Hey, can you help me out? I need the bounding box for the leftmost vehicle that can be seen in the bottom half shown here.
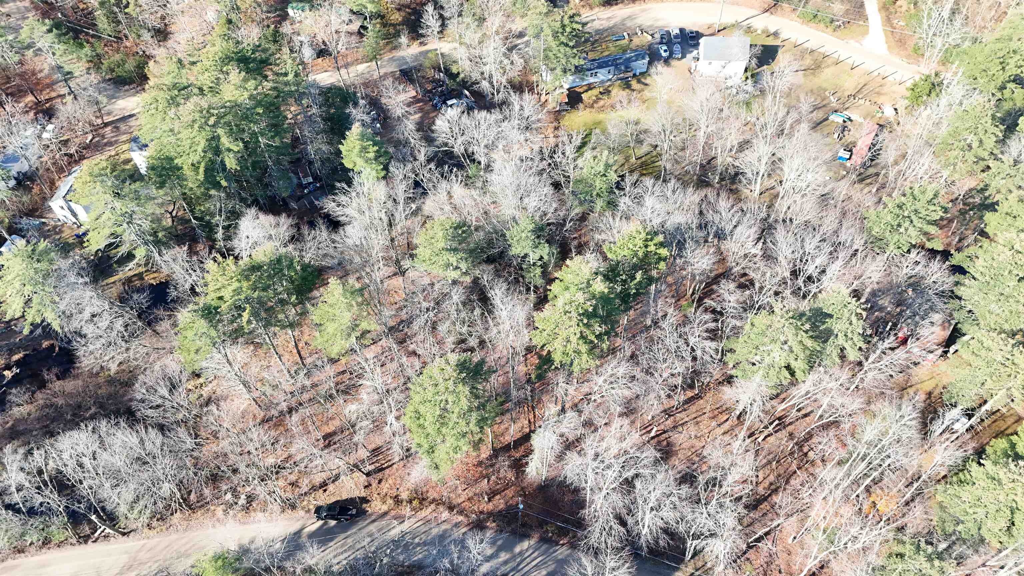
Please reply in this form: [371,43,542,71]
[313,503,359,522]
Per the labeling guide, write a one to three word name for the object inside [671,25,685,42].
vehicle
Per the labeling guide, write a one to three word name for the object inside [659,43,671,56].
vehicle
